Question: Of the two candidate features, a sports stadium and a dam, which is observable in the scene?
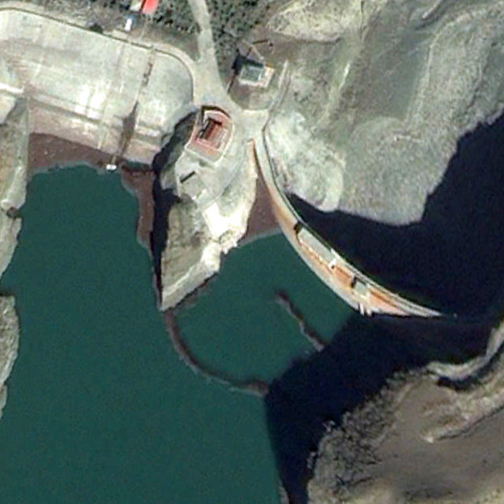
dam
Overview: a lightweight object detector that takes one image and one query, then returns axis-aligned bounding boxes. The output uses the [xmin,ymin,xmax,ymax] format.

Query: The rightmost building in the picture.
[240,66,264,82]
